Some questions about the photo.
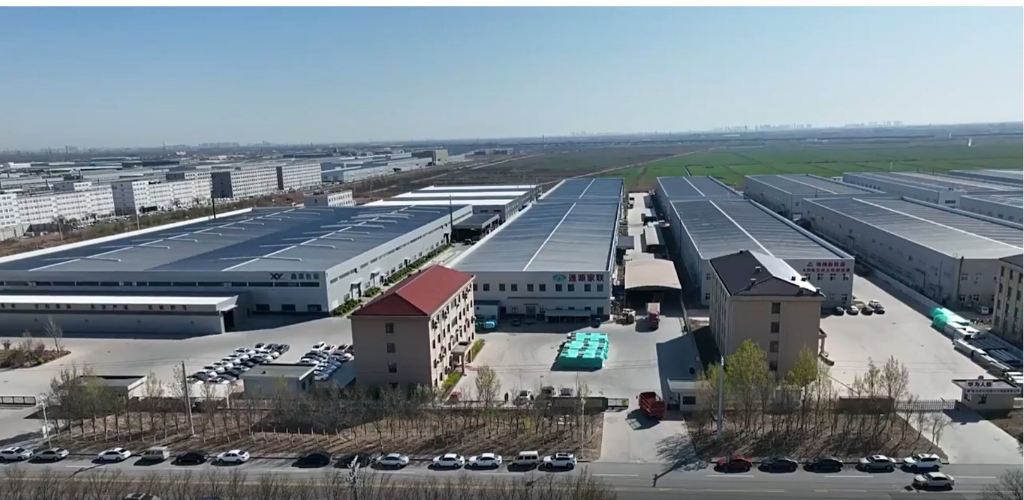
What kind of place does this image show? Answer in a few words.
industrial area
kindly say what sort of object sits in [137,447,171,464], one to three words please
vehicle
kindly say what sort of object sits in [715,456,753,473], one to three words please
car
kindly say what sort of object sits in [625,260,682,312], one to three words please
shed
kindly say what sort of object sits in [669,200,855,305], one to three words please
building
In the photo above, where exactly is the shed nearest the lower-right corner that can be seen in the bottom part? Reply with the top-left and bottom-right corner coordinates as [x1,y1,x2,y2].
[948,376,1024,412]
